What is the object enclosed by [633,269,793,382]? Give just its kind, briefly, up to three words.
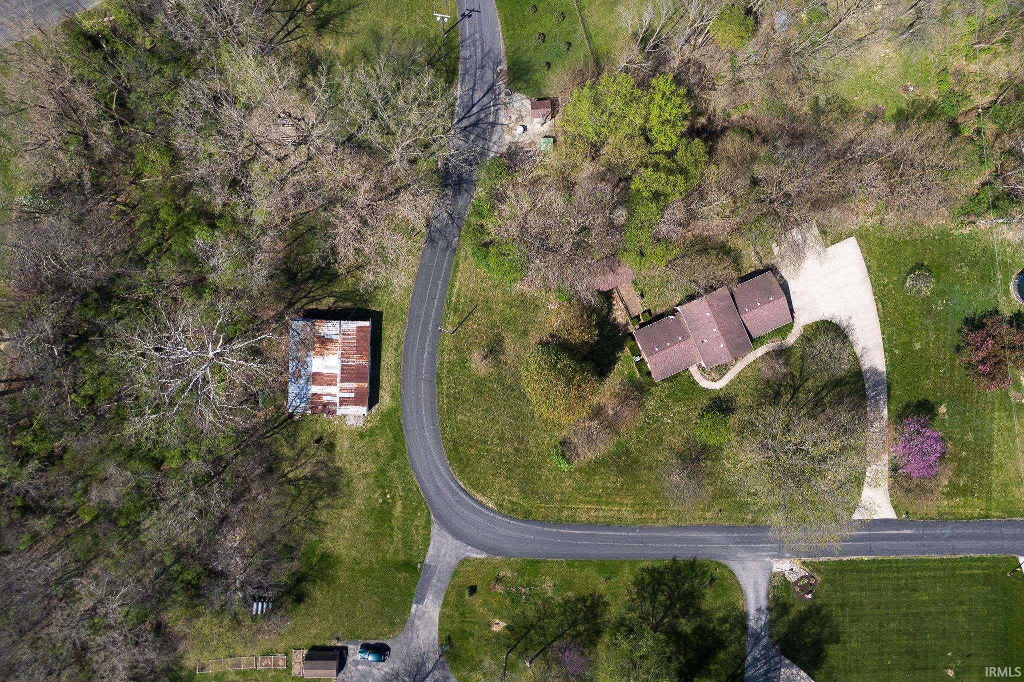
house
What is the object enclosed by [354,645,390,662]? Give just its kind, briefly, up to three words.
car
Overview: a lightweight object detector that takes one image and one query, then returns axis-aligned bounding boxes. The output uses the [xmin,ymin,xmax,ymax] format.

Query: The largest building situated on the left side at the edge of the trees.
[287,319,374,417]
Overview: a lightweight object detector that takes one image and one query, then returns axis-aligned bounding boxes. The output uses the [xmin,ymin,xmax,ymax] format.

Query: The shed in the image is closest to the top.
[530,97,551,117]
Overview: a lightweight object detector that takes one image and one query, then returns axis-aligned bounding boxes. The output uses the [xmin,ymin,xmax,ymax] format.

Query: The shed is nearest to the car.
[303,653,339,679]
